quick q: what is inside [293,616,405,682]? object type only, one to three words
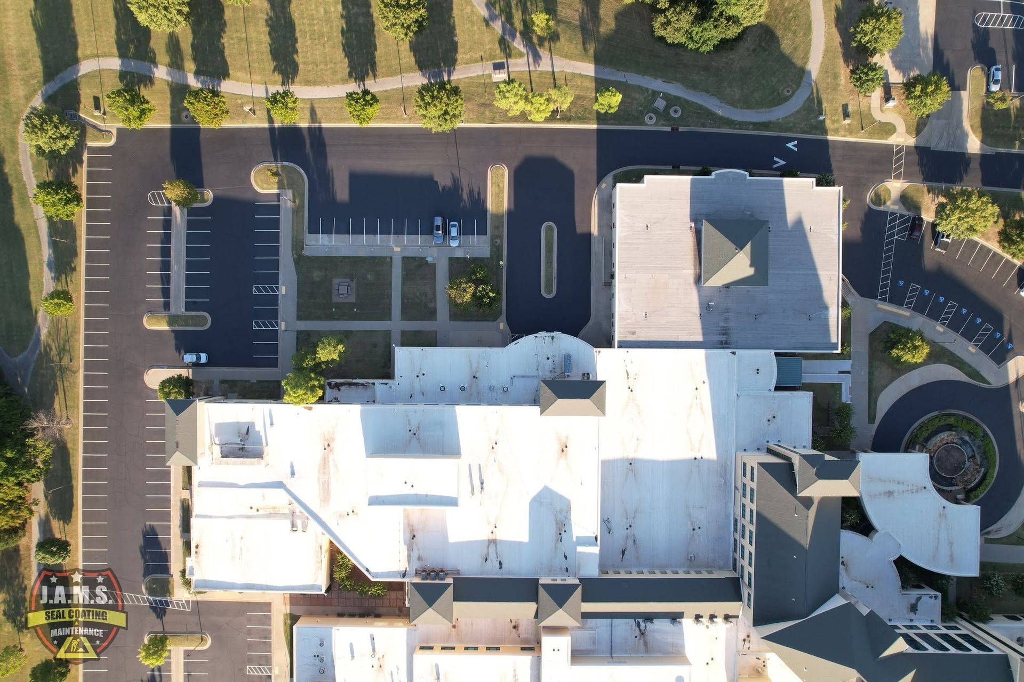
building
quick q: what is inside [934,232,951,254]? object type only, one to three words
vehicle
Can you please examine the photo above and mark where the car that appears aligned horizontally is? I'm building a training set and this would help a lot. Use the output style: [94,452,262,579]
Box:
[182,352,209,364]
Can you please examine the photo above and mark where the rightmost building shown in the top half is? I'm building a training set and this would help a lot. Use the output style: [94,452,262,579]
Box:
[611,169,842,353]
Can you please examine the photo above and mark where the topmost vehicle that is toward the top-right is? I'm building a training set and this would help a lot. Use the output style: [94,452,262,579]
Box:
[986,65,1000,92]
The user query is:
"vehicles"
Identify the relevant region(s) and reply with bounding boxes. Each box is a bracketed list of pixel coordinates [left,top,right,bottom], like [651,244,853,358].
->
[433,218,443,243]
[449,221,460,246]
[908,215,924,240]
[934,232,951,254]
[182,352,209,364]
[986,65,1000,92]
